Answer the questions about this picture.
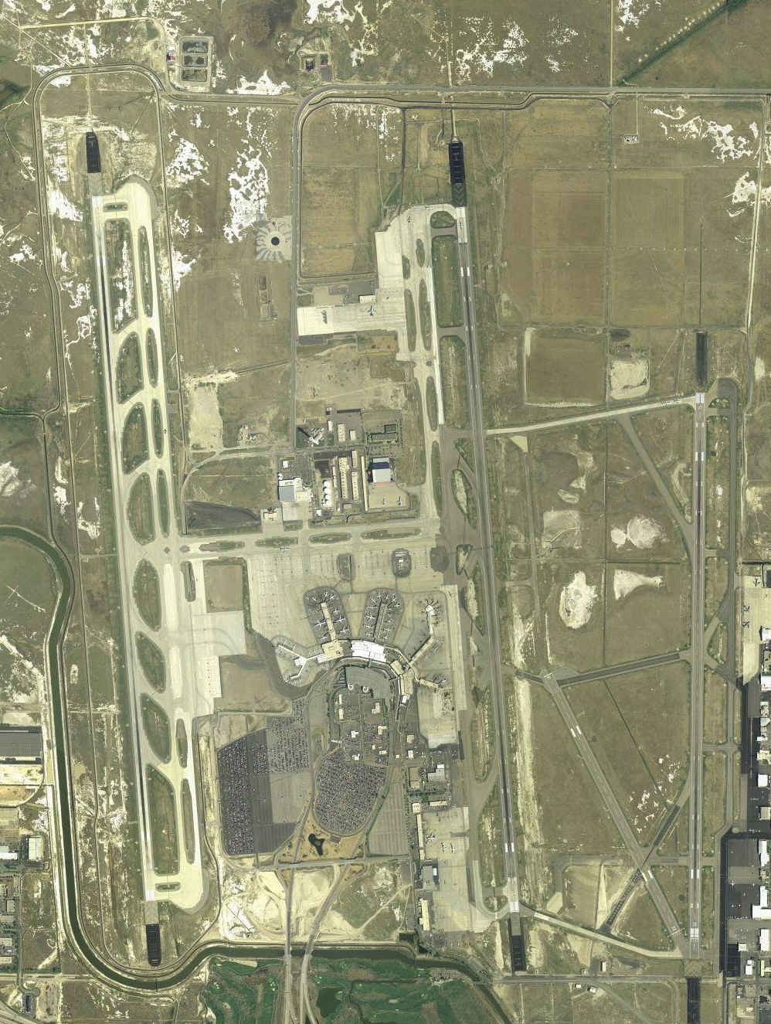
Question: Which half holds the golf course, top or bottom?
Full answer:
The bottom half of the photo is where the golf course is.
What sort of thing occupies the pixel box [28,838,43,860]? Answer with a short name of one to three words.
building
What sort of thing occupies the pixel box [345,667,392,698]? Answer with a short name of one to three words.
building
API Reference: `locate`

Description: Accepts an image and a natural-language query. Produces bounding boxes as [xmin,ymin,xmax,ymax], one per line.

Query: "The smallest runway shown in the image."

[544,674,689,956]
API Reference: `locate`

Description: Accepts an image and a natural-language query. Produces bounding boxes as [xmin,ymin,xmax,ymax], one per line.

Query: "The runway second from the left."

[449,143,525,971]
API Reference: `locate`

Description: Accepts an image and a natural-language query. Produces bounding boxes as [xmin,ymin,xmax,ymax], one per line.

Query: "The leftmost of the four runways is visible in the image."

[86,131,160,966]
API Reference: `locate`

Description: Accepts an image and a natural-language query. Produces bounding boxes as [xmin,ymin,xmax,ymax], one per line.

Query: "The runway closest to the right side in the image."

[685,332,707,1024]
